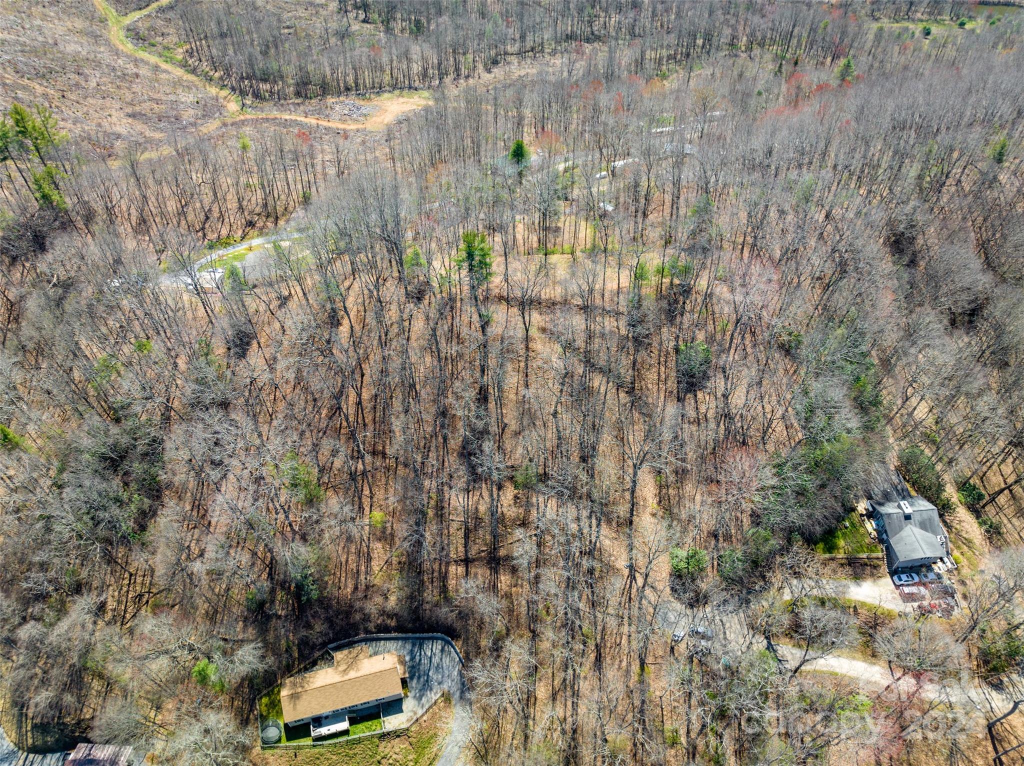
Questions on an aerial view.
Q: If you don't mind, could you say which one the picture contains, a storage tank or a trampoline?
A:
trampoline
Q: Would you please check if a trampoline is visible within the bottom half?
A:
Yes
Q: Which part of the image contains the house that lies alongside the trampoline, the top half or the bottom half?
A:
bottom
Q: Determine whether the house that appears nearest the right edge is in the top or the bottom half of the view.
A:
bottom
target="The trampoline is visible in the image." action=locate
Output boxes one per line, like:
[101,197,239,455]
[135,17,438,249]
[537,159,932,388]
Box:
[257,721,284,747]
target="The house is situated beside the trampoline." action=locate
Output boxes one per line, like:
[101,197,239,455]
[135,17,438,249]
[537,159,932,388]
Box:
[281,646,409,739]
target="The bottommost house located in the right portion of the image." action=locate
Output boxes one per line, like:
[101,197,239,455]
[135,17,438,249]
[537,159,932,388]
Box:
[855,499,957,579]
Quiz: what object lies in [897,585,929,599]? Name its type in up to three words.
car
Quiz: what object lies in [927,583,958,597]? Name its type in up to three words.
car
